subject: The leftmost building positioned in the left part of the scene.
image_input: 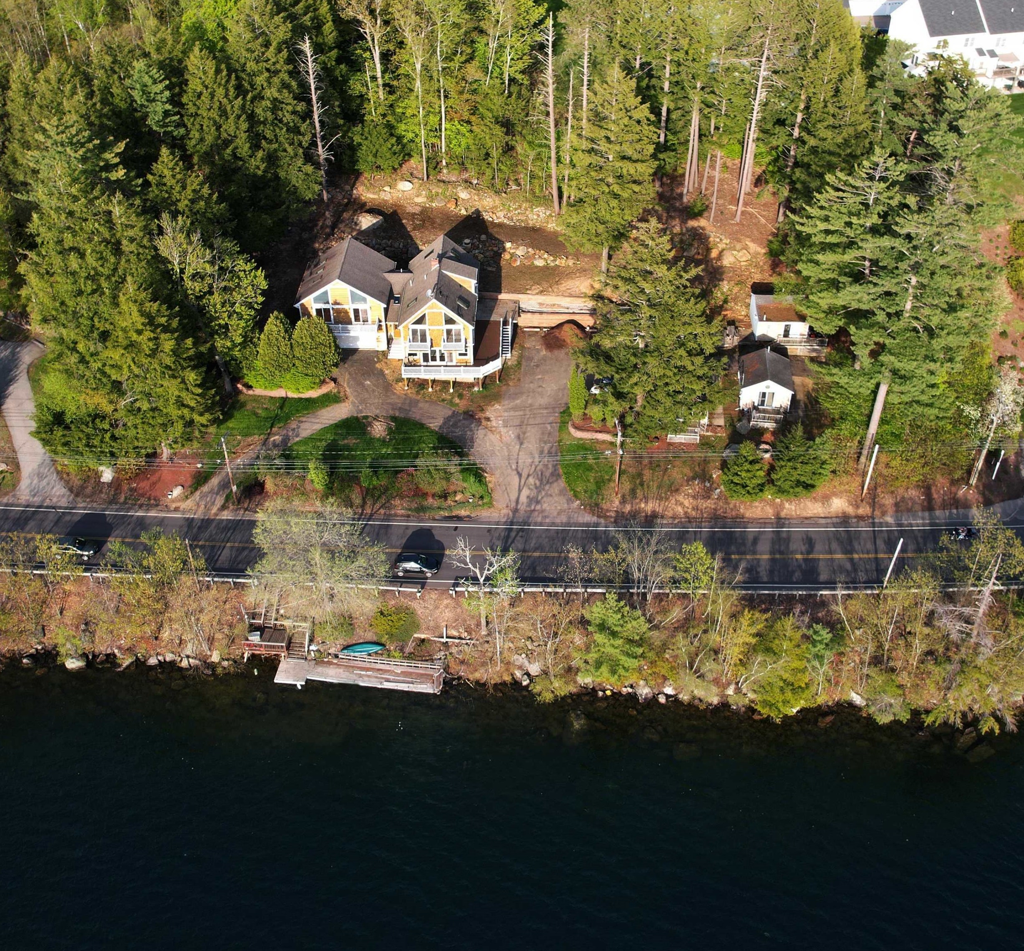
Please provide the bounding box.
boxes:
[293,232,483,365]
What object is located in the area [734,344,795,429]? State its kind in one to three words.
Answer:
house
